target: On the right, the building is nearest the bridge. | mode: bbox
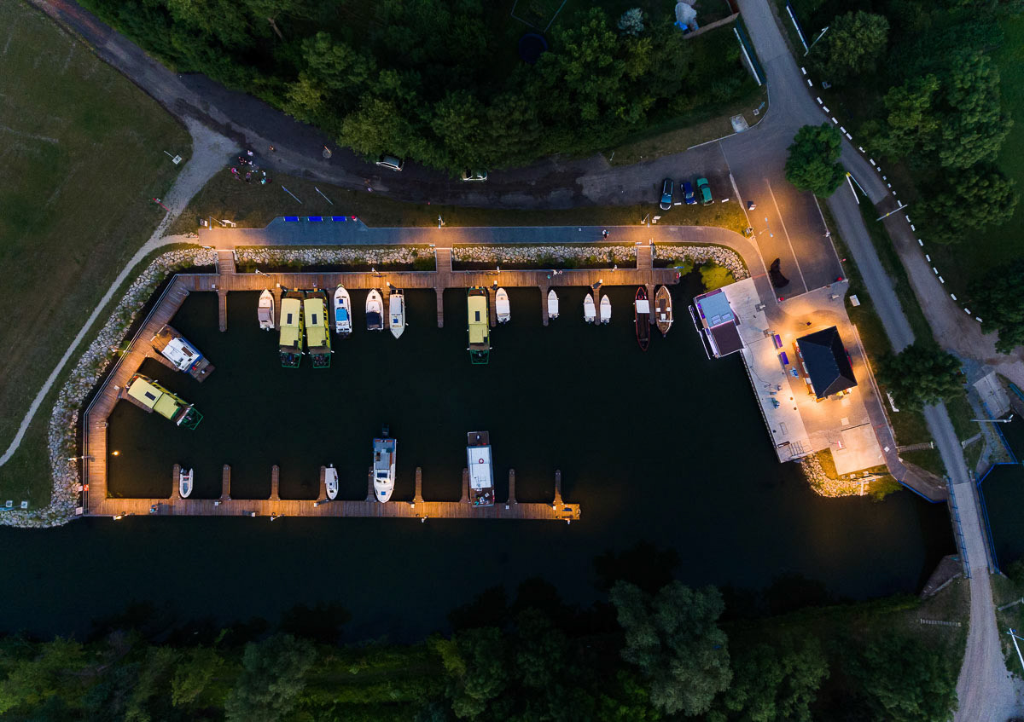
[785,325,858,399]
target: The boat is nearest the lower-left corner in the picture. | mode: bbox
[180,469,194,498]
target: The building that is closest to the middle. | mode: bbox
[692,288,745,358]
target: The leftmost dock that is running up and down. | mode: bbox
[168,464,184,499]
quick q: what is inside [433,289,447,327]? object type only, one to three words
pier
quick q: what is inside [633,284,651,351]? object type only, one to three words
boat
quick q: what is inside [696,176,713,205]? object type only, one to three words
car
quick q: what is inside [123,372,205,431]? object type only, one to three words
boat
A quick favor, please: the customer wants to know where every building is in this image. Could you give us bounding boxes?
[692,288,745,358]
[785,325,858,399]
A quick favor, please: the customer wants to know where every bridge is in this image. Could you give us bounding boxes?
[942,479,1001,578]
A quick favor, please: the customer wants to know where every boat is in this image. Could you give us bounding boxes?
[123,372,205,431]
[547,286,560,321]
[365,286,382,333]
[148,324,215,382]
[656,283,673,338]
[633,284,651,351]
[180,469,194,498]
[333,283,351,339]
[465,283,493,365]
[467,430,495,508]
[324,466,338,502]
[584,292,597,324]
[389,289,407,339]
[302,285,335,369]
[372,432,397,505]
[256,285,275,333]
[600,292,612,325]
[496,284,513,324]
[277,285,306,370]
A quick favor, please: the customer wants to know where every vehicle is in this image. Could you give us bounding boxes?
[658,178,674,210]
[696,176,713,205]
[462,169,488,181]
[377,154,405,171]
[681,179,698,205]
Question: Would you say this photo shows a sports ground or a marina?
marina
